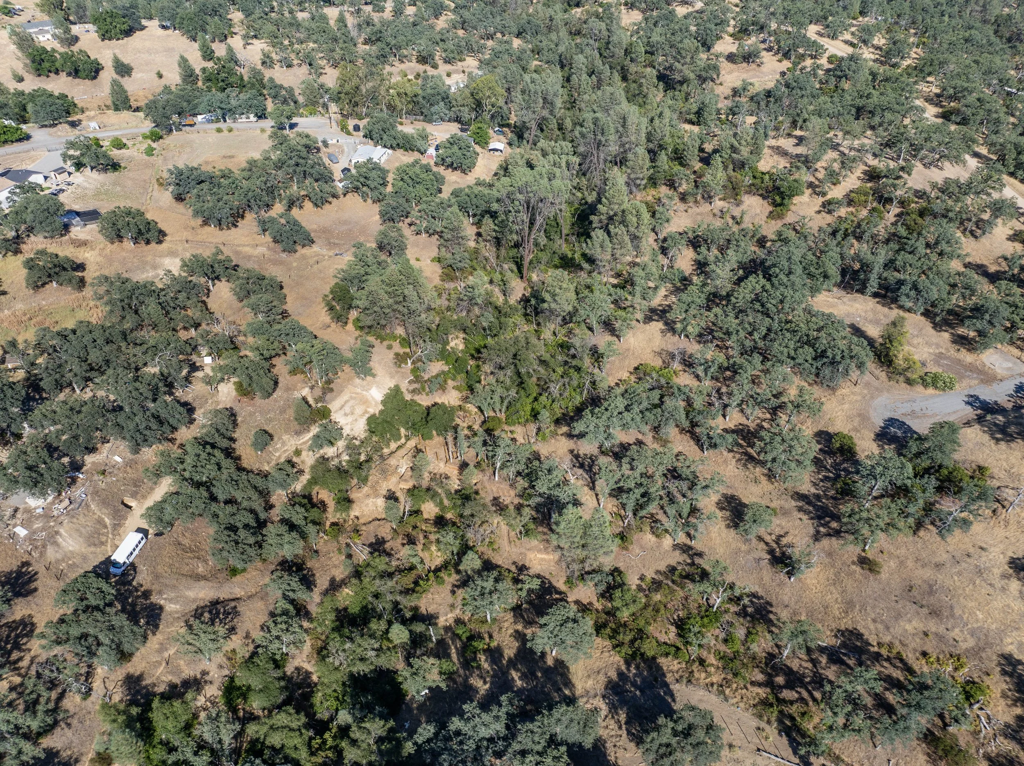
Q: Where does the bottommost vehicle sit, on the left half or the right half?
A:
left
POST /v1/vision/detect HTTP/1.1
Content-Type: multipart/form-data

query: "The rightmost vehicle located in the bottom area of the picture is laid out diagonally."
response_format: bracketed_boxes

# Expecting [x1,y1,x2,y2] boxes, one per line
[106,527,147,575]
